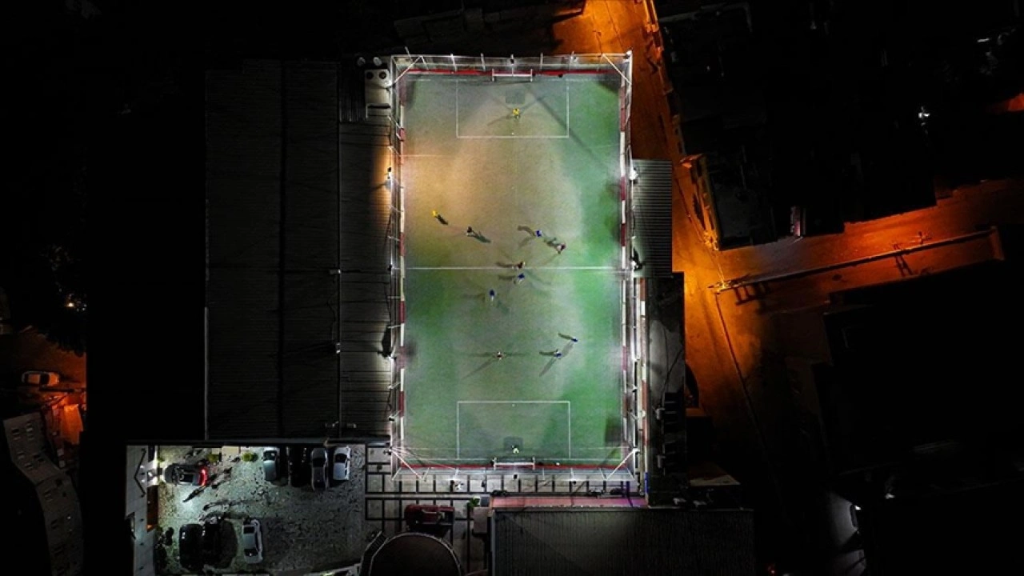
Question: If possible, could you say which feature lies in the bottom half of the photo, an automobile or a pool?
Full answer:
Looking in the bottom half of the photo, you will find an automobile.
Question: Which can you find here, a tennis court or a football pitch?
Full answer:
I can see a football pitch in this picture.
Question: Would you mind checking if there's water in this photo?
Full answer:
No, the scene doesn't show any water.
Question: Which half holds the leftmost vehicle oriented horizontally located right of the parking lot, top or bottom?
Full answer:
The leftmost vehicle oriented horizontally located right of the parking lot sits in the bottom half of the picture.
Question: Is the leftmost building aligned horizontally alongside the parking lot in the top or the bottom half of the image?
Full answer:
It is in the bottom half that the leftmost building aligned horizontally alongside the parking lot appears.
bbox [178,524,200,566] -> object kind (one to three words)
car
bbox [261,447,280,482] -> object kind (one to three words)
car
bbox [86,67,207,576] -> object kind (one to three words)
building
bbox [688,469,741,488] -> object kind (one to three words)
shed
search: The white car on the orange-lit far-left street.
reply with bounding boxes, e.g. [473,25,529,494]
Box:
[17,369,59,388]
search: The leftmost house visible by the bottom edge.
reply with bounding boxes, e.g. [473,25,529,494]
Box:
[0,412,83,576]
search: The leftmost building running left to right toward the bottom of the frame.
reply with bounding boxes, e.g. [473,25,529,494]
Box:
[360,526,465,576]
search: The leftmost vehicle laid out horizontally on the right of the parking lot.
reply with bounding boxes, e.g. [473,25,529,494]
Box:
[402,506,453,526]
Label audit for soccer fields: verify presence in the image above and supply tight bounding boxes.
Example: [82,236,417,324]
[402,76,625,462]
